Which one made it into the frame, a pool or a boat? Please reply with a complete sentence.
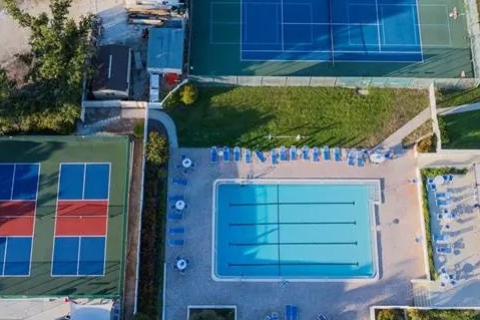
Looking from above, you can make out a pool.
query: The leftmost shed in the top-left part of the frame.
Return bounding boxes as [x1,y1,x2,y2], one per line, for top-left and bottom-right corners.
[94,45,132,98]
